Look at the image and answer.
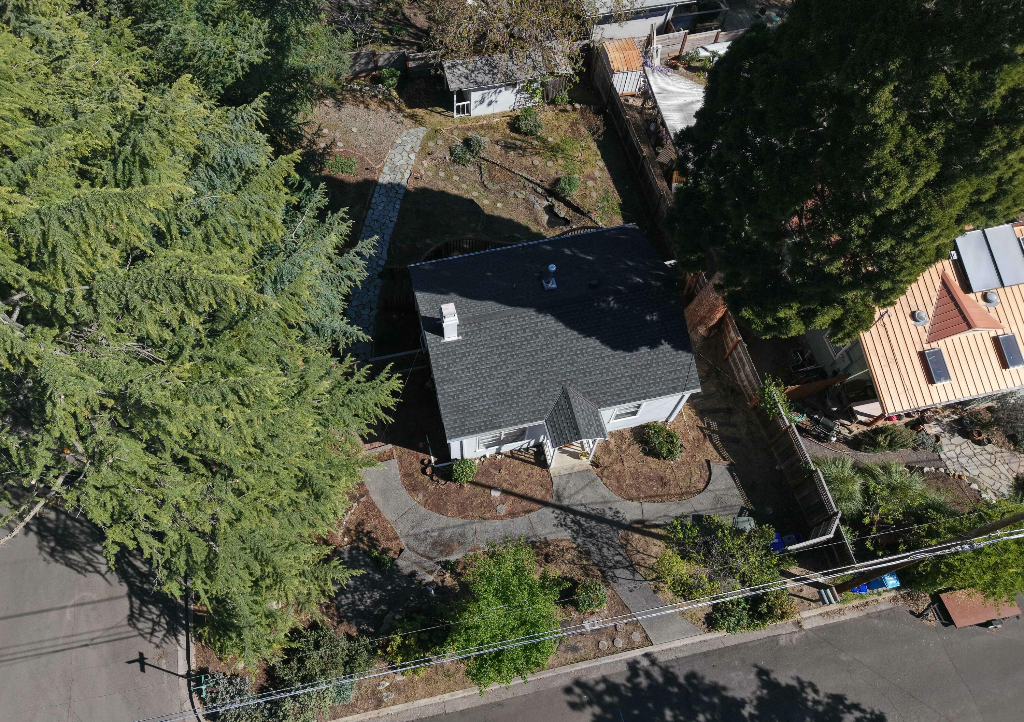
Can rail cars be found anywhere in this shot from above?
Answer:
No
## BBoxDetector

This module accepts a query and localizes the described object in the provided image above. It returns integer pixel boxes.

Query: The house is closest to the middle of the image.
[406,222,700,477]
